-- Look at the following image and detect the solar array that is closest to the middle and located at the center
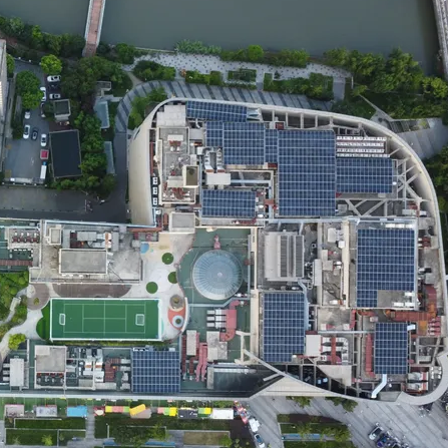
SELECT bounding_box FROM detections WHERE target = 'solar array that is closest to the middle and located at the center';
[201,190,255,218]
